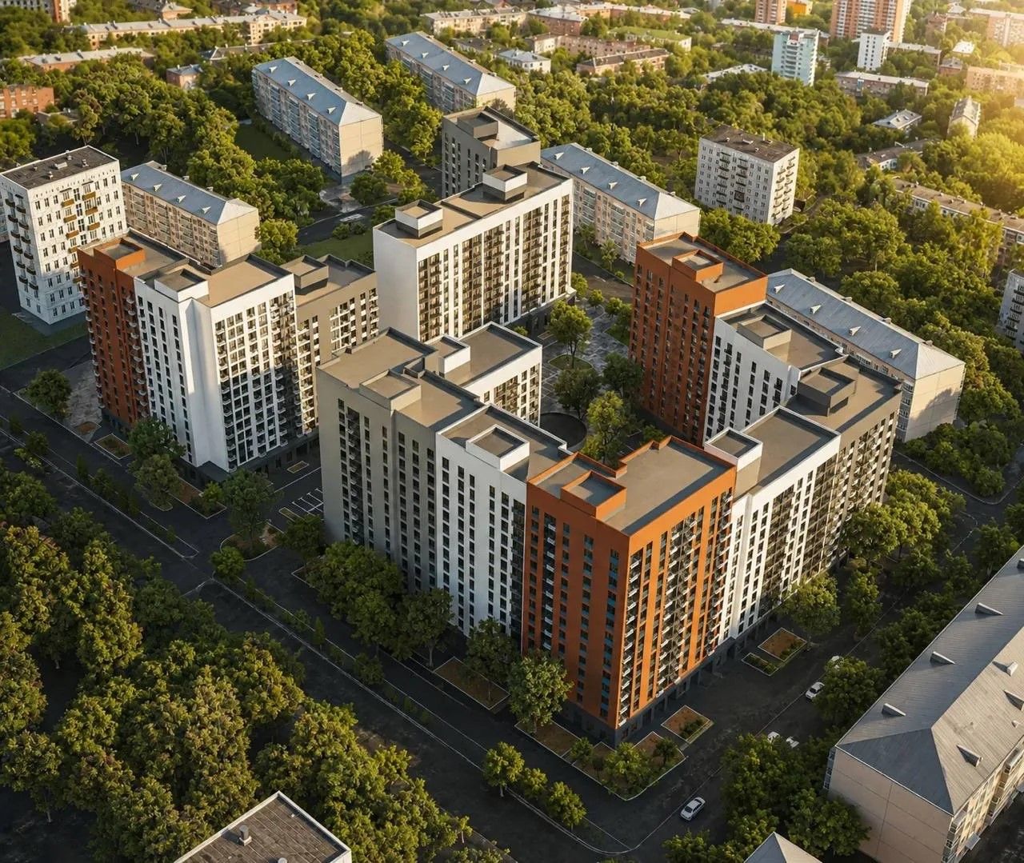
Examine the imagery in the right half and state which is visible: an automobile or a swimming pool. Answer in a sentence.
Looking in the right half, you will find an automobile.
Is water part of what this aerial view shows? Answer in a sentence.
No, the scene doesn't show any water.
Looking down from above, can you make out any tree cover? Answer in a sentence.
Yes, tree cover can be seen from above here.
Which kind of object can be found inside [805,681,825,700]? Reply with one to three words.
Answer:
car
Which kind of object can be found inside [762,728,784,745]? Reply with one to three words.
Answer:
car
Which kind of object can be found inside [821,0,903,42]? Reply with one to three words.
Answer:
building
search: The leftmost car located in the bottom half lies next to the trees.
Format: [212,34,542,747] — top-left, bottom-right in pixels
[681,797,703,817]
